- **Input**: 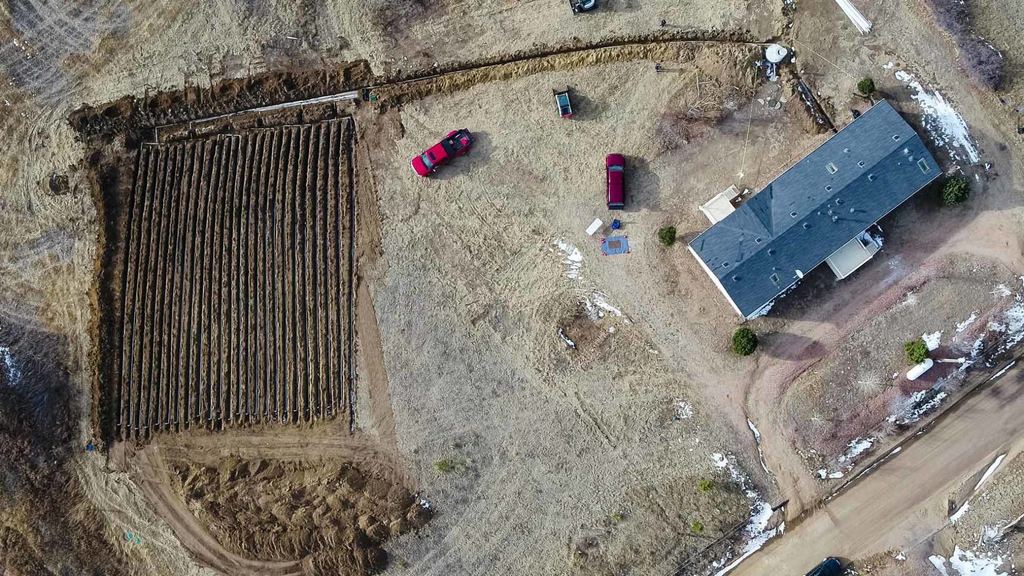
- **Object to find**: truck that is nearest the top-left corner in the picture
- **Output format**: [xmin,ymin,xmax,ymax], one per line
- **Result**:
[410,127,475,175]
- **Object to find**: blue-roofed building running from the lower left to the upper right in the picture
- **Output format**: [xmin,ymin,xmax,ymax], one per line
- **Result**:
[685,97,942,319]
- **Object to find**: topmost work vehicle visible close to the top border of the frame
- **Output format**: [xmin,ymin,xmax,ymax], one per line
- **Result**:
[569,0,594,22]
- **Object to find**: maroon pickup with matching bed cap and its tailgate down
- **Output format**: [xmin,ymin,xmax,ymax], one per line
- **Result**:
[605,154,628,210]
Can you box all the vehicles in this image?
[605,154,628,210]
[569,0,594,22]
[798,557,842,576]
[554,86,574,120]
[410,127,475,175]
